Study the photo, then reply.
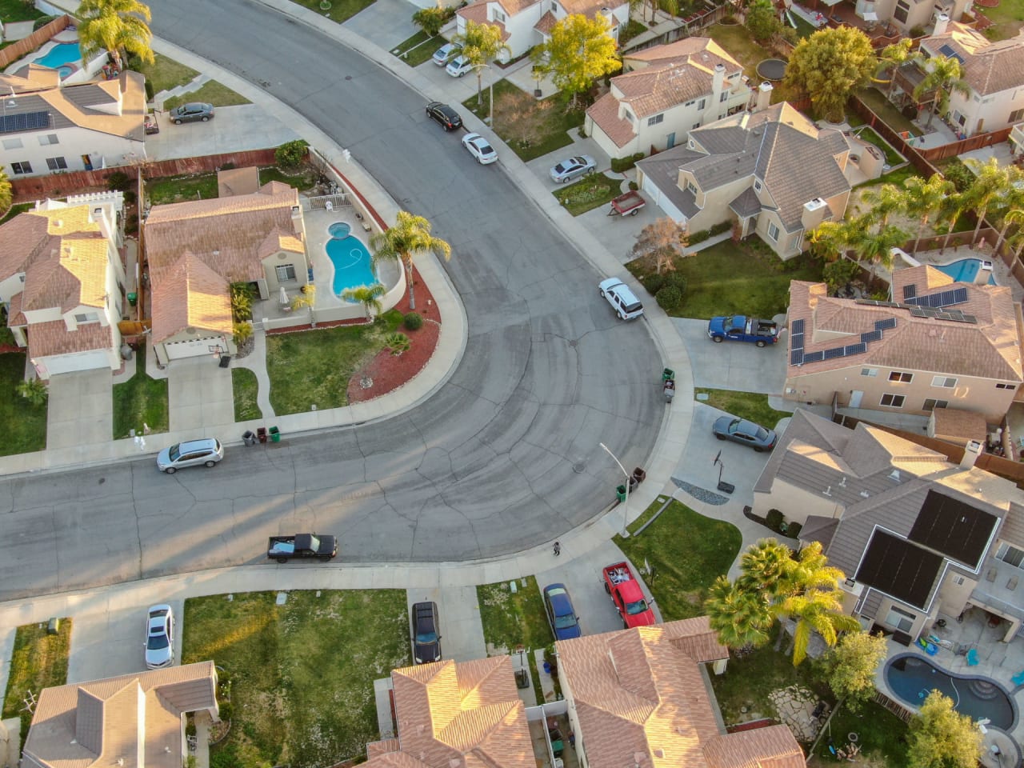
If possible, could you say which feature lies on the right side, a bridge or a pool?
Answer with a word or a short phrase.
pool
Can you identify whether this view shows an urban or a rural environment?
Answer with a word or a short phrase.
urban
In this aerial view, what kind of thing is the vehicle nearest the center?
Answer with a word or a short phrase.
car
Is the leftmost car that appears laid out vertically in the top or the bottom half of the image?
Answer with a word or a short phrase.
bottom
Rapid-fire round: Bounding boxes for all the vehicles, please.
[458,130,503,169]
[262,529,342,564]
[542,575,582,642]
[706,414,781,453]
[427,38,469,69]
[440,52,479,81]
[544,152,602,185]
[409,595,444,666]
[601,555,657,629]
[422,99,468,135]
[158,434,226,473]
[596,273,649,325]
[165,99,220,126]
[707,314,781,344]
[140,598,177,671]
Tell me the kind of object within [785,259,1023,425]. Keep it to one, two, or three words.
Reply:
house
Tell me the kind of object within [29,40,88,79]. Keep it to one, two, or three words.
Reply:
swimming pool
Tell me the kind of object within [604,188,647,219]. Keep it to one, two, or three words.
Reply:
trailer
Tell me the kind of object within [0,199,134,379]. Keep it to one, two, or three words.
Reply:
house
